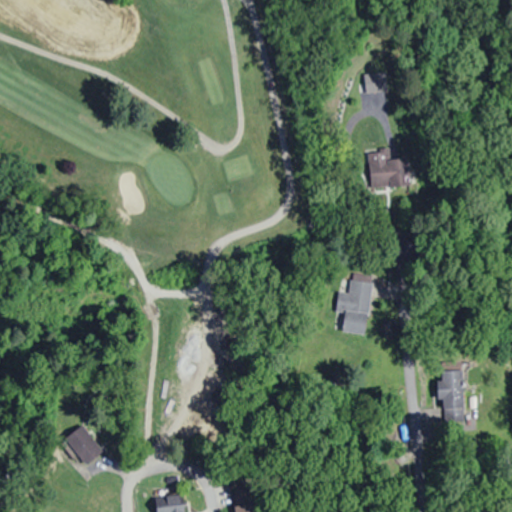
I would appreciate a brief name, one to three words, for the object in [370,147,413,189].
house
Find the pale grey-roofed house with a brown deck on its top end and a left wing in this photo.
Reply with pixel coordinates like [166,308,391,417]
[338,272,374,336]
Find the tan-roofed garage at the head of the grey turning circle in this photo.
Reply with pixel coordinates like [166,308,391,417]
[364,73,384,94]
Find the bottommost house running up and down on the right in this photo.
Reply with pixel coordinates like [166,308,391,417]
[438,362,469,422]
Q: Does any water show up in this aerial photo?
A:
No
